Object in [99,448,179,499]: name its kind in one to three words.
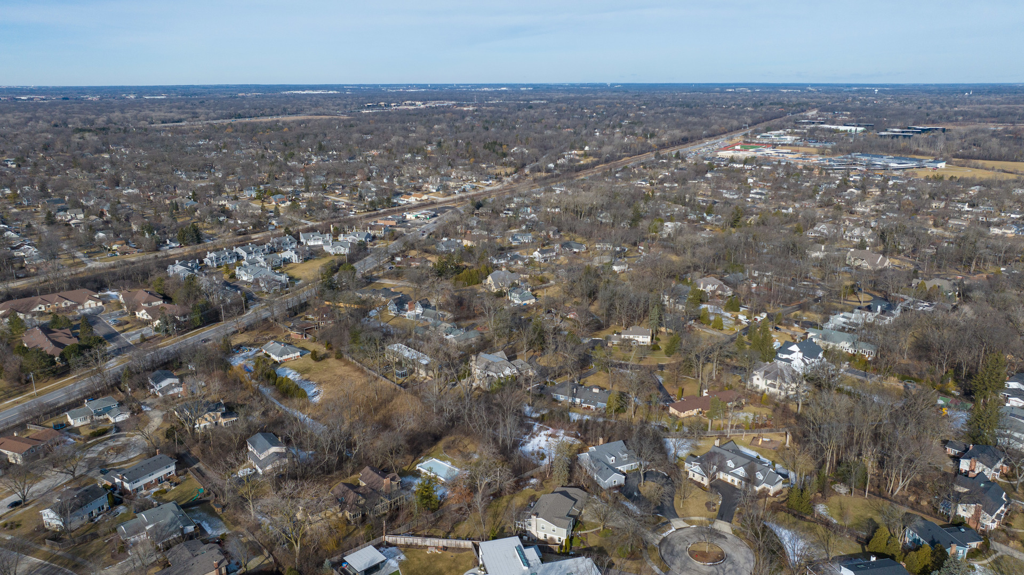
house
